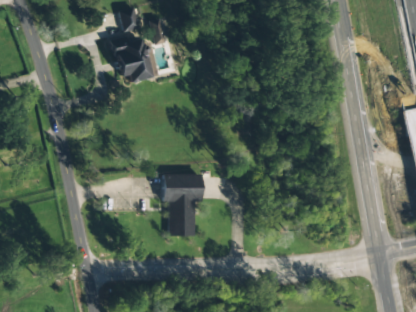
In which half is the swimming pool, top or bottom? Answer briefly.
top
